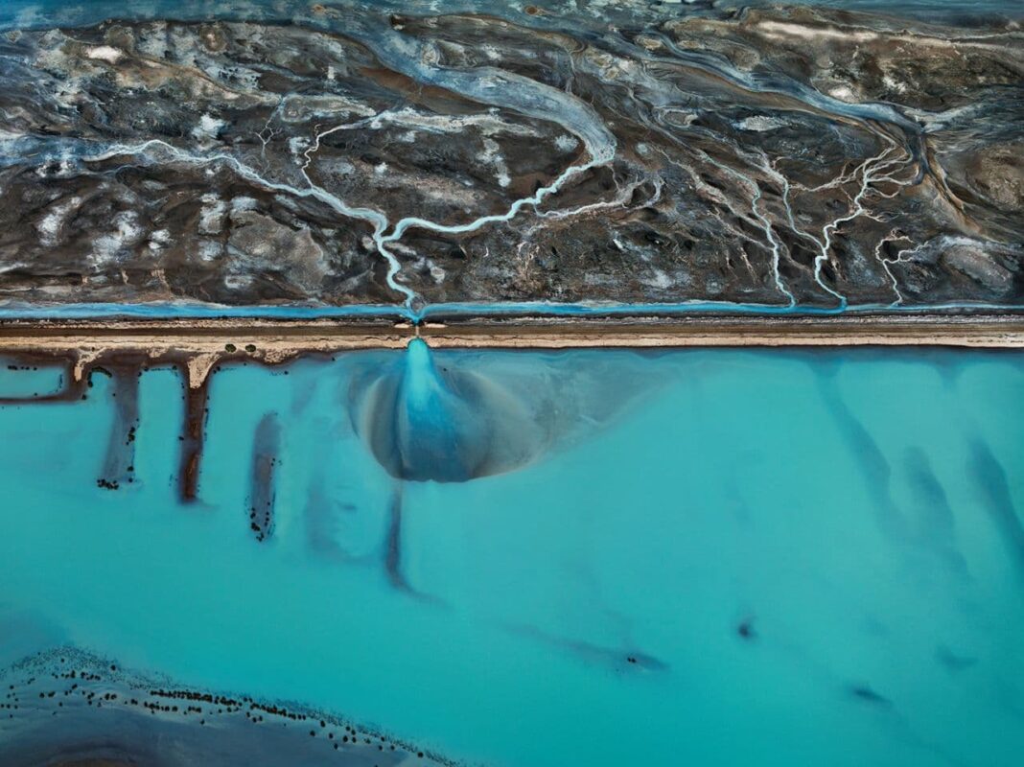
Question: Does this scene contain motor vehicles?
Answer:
No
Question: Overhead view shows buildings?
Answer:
No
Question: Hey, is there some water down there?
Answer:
Yes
